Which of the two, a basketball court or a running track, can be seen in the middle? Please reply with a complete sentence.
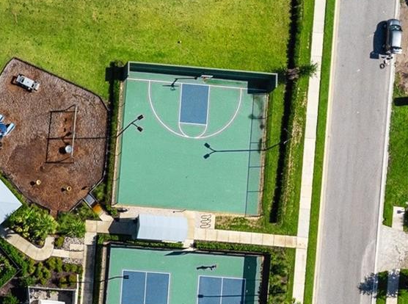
What appears in the middle is a basketball court.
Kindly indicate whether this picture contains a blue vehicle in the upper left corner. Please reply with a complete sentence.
No, no blue vehicle appears in the upper left corner.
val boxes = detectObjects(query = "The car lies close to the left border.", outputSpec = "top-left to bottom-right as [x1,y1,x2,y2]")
[17,71,41,89]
